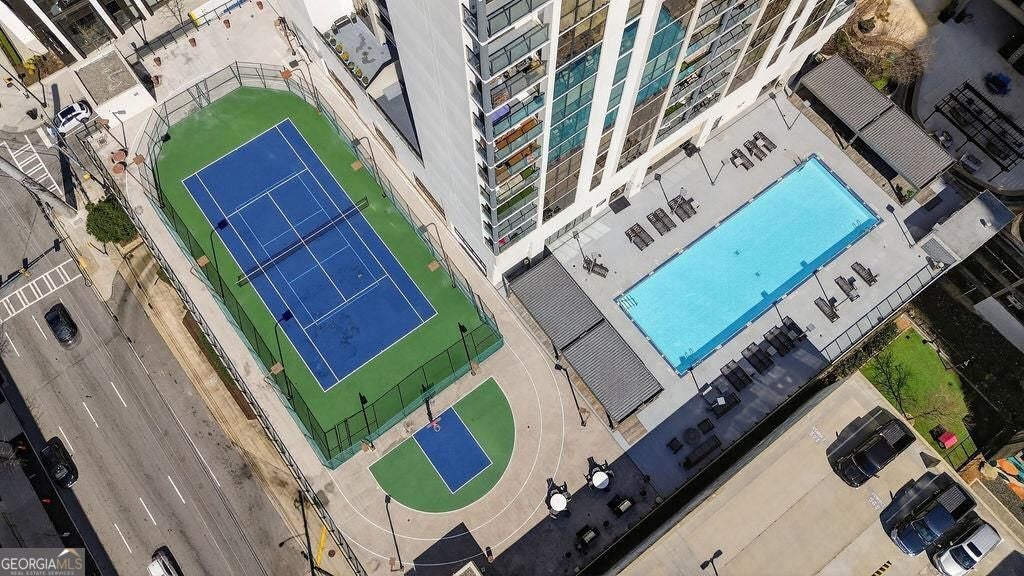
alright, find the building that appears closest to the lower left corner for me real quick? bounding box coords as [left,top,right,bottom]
[0,380,103,576]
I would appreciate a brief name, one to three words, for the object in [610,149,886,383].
swimming pool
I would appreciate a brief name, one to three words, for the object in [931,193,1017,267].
building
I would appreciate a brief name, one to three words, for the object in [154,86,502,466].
tennis court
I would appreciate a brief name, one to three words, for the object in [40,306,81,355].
car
